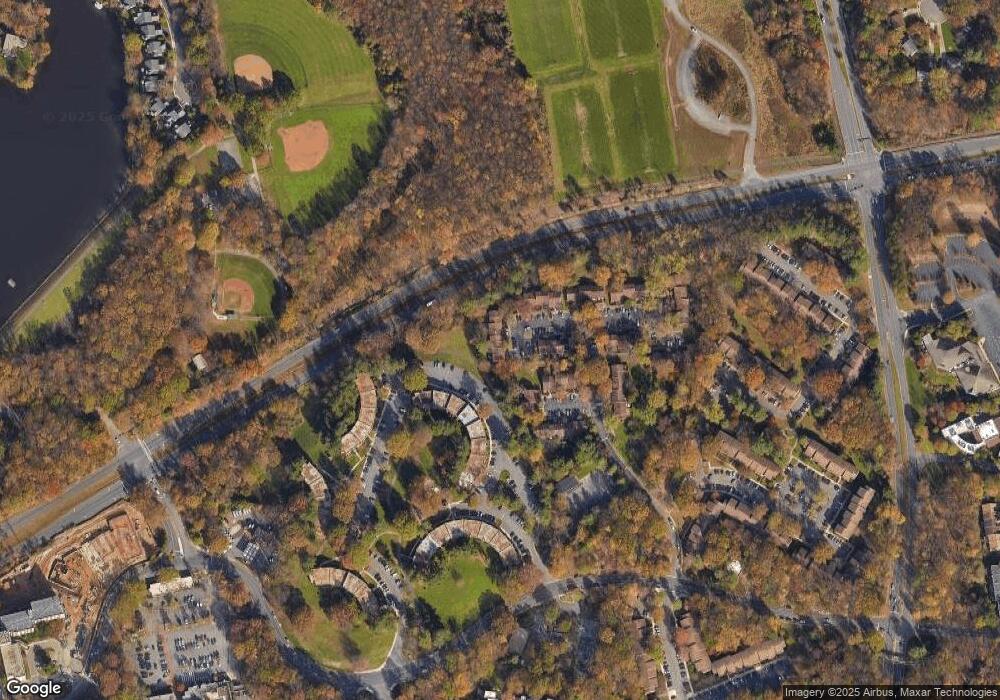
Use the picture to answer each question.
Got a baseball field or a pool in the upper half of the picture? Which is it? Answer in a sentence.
The feature located in the upper half of the picture is a baseball field.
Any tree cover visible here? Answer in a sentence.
Yes, there is tree cover in the image.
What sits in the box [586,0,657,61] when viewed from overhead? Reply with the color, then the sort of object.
green sports field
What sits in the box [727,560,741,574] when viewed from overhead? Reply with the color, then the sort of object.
white gazebo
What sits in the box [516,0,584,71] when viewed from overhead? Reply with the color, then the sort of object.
green sports field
